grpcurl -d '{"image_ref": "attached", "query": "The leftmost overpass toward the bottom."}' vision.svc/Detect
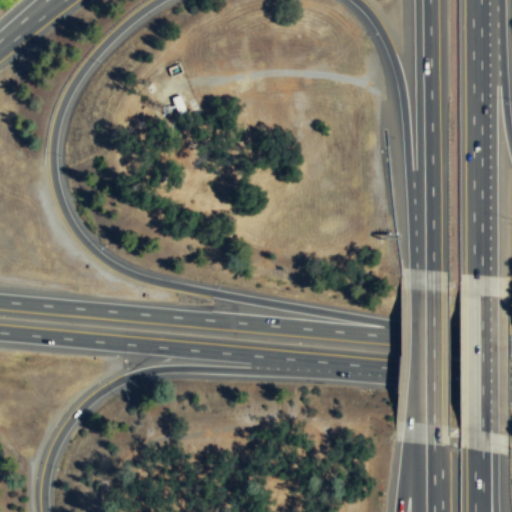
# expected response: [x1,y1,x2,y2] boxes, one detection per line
[396,270,450,446]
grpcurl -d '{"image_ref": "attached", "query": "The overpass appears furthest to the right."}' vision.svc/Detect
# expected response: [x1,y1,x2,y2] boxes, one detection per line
[460,274,510,456]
